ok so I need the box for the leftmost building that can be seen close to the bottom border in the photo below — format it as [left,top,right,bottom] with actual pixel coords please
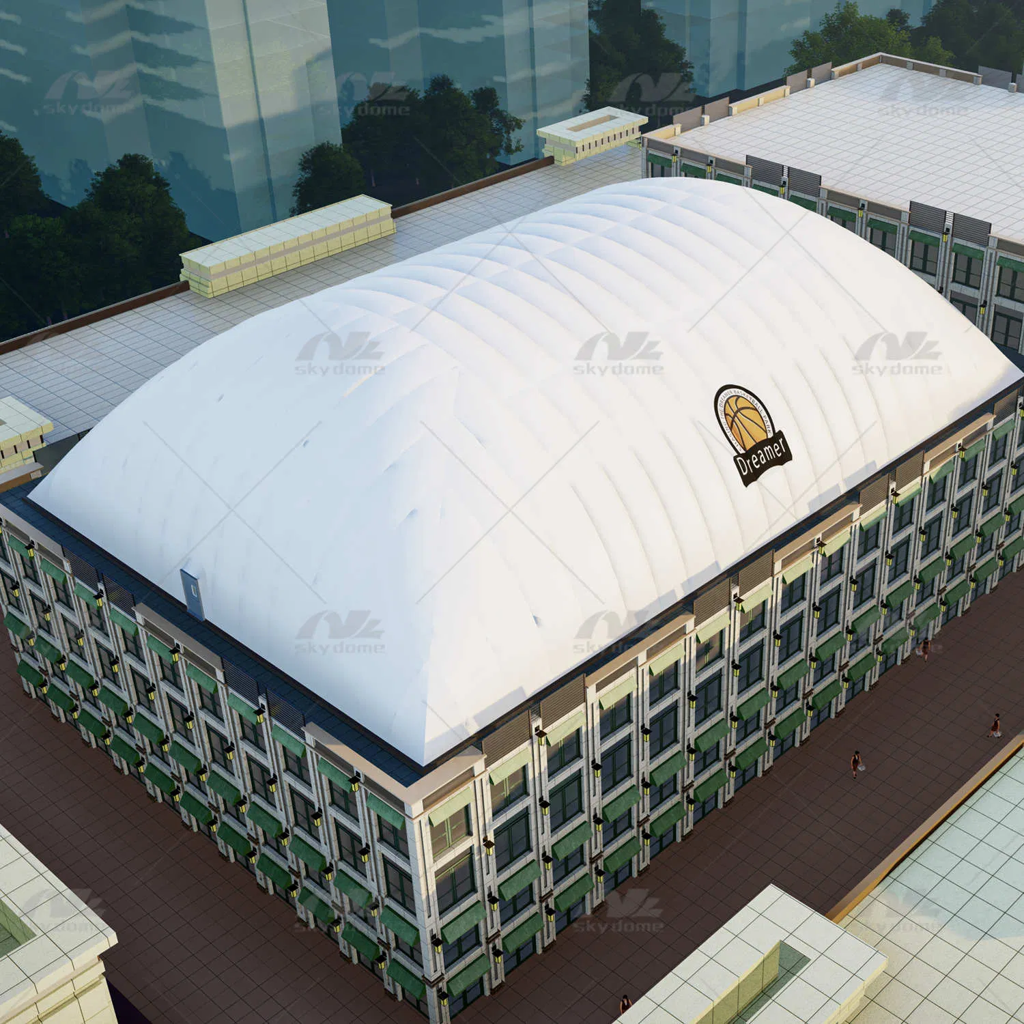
[0,825,120,1024]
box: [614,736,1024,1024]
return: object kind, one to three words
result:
building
